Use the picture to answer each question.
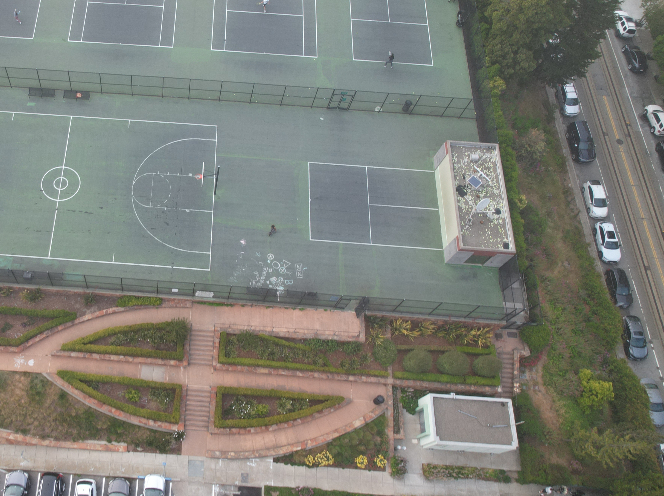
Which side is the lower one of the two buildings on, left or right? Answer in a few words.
right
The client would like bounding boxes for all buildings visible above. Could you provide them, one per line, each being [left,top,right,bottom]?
[410,394,523,453]
[436,141,515,266]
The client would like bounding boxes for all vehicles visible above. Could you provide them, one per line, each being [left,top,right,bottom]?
[567,119,599,164]
[1,470,29,496]
[140,473,168,496]
[107,478,130,496]
[602,268,636,309]
[592,221,624,266]
[610,9,642,41]
[654,138,664,174]
[619,43,647,76]
[37,472,64,496]
[557,80,584,117]
[582,179,611,220]
[643,103,664,138]
[617,315,652,362]
[641,379,664,427]
[74,478,98,496]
